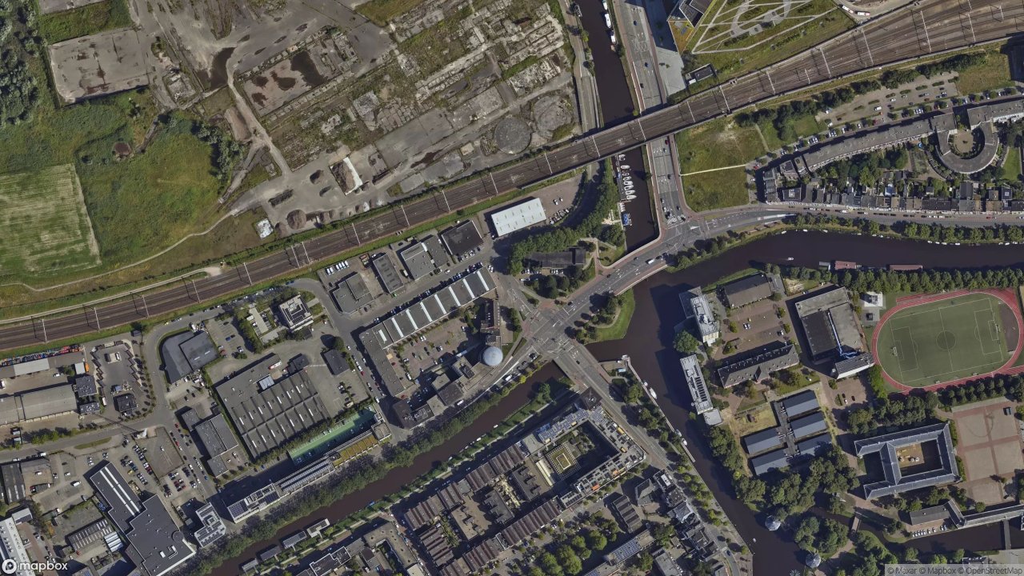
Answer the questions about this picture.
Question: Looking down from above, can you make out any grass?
Yes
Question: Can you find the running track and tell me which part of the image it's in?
right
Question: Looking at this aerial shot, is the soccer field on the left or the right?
right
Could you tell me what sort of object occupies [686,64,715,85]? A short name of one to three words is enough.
shed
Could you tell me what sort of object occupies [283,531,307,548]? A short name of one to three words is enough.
boat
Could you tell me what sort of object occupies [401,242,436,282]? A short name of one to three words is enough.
building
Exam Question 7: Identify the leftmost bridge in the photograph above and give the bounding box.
[546,342,608,401]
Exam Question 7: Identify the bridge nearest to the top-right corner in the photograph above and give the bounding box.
[606,210,672,296]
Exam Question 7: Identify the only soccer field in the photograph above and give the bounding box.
[864,281,1024,397]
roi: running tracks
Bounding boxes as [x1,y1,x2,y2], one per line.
[872,288,1024,391]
